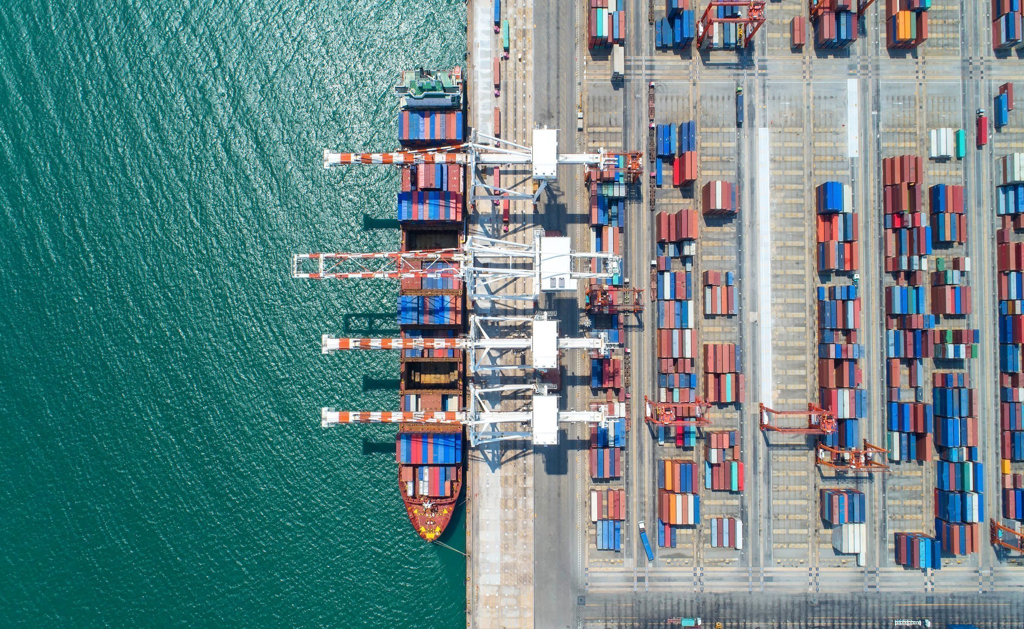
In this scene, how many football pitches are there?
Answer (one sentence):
Not a single football pitch can be seen.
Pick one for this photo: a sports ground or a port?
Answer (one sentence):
It's a port.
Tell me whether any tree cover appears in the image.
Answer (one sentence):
No, the picture contains no tree cover.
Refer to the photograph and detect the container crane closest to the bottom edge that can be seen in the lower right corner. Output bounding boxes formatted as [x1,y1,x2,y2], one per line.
[991,517,1024,557]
